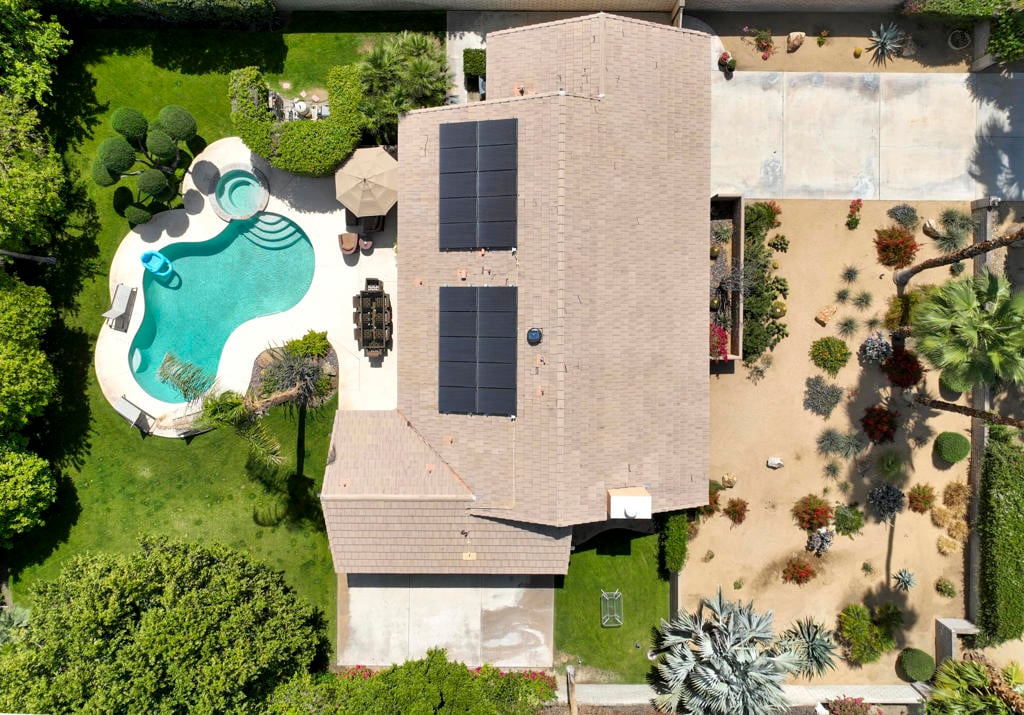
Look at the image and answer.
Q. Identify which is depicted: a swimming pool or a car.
swimming pool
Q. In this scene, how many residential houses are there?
1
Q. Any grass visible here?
Yes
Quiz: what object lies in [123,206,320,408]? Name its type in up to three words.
swimming pool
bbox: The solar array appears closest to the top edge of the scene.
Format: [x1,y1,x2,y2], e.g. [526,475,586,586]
[437,116,516,254]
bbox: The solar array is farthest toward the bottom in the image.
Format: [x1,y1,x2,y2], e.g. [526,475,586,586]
[437,285,516,418]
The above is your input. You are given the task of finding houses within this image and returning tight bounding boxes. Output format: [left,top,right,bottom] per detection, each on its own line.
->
[320,12,713,574]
